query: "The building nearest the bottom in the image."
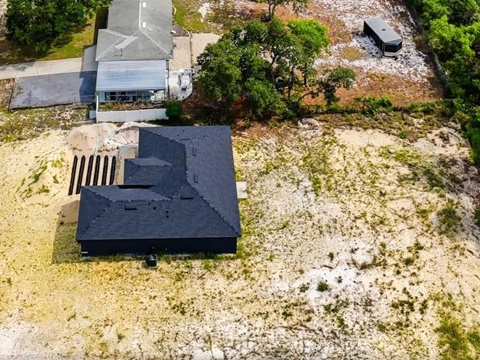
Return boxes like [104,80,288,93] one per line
[74,126,242,253]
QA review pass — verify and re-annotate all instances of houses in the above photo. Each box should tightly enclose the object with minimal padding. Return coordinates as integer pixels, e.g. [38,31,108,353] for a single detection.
[74,126,242,253]
[93,0,172,106]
